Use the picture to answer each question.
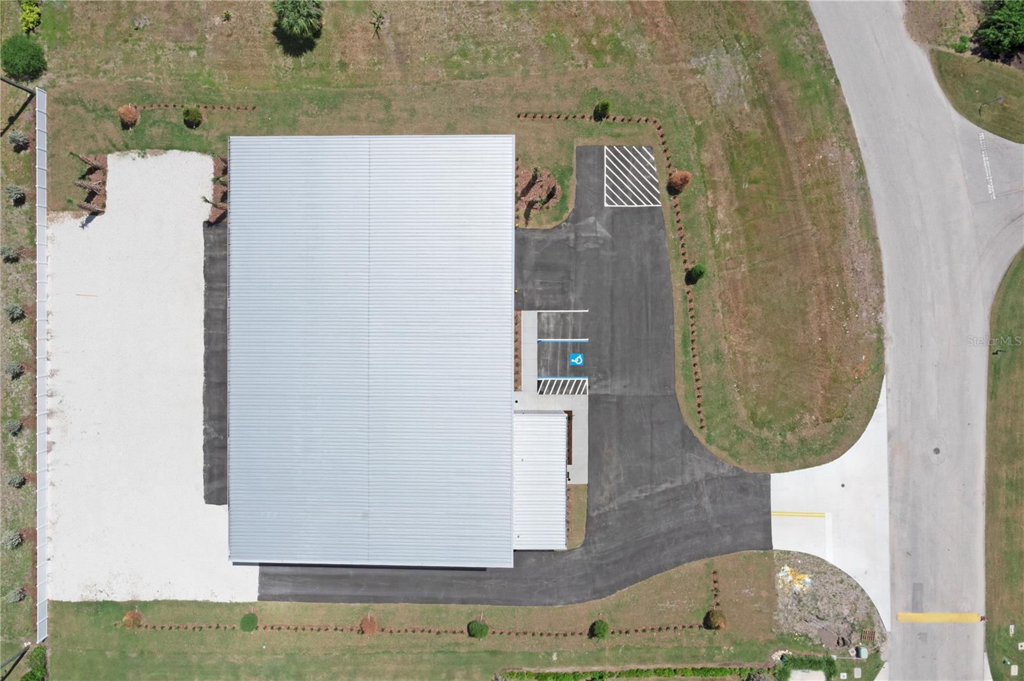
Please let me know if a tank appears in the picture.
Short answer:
No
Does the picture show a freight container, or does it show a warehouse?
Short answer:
warehouse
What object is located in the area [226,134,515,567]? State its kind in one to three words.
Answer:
warehouse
